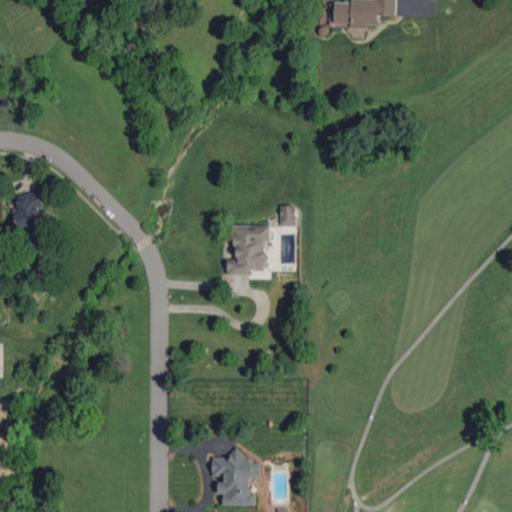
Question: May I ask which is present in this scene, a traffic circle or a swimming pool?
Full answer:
The image shows a swimming pool.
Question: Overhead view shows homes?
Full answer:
Yes, there is a home in the image.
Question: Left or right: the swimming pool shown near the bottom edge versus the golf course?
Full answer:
The swimming pool shown near the bottom edge is to the left of the golf course.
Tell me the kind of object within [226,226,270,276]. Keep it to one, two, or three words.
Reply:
house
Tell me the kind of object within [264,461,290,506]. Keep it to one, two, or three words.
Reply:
swimming pool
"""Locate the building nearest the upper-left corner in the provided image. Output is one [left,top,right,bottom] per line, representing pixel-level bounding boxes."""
[10,192,44,228]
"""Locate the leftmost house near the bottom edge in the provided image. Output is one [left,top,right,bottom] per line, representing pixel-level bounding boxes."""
[212,448,260,507]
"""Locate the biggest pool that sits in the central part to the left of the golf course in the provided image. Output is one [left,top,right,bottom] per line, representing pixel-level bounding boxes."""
[250,226,296,280]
